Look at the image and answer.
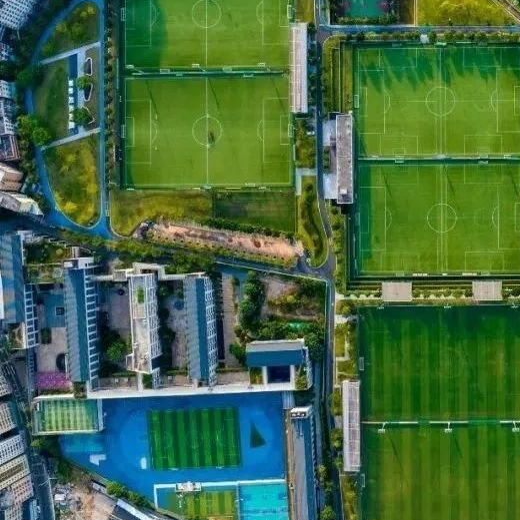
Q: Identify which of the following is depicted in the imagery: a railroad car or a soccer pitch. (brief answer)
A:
soccer pitch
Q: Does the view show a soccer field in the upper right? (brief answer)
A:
Yes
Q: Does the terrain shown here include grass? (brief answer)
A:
Yes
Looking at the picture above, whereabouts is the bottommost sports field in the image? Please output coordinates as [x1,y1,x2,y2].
[156,484,237,520]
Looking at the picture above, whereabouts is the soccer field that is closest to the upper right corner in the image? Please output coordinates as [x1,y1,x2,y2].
[343,39,520,159]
